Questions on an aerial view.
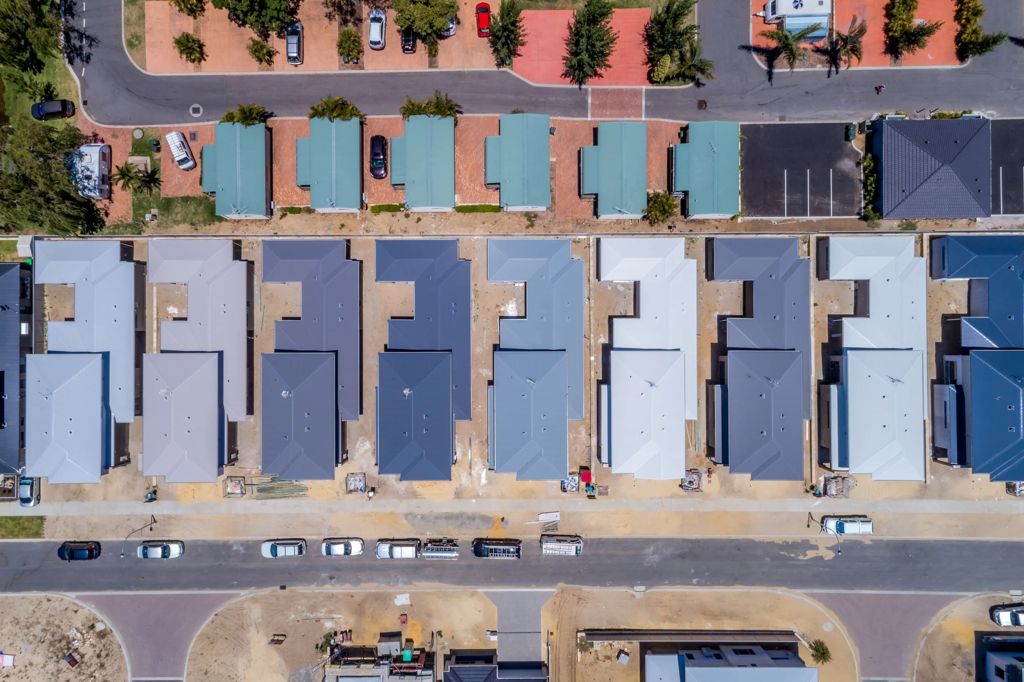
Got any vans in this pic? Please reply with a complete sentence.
Yes, a van appears in the view.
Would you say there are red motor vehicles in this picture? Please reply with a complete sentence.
Yes, there's a red motor vehicle down there.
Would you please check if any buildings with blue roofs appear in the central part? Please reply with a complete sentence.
Yes, a building with a blue roof appears in the central part.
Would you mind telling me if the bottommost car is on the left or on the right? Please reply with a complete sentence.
You can find the bottommost car on the right side of the picture.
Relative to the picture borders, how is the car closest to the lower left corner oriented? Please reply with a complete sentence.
In this picture, the car closest to the lower left corner is oriented from side to side.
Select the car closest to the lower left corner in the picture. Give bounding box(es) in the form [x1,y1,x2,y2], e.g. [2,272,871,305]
[58,541,103,562]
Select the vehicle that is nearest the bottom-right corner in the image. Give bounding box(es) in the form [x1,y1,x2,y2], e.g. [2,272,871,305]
[989,602,1024,628]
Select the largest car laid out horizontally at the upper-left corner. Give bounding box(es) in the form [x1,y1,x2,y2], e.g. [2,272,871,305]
[30,99,78,122]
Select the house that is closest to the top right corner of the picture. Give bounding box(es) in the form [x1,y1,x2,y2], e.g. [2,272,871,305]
[876,119,992,220]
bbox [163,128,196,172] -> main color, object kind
white van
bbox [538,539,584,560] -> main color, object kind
white vehicle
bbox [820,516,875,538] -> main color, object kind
white truck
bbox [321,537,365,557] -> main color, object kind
white car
